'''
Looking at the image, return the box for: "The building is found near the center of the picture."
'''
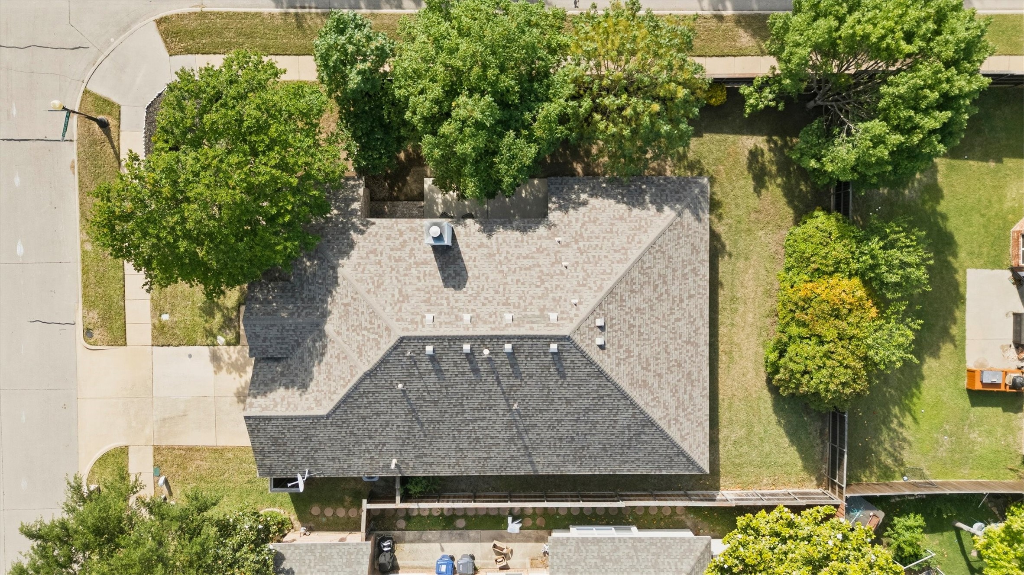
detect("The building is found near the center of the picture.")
[241,176,709,476]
